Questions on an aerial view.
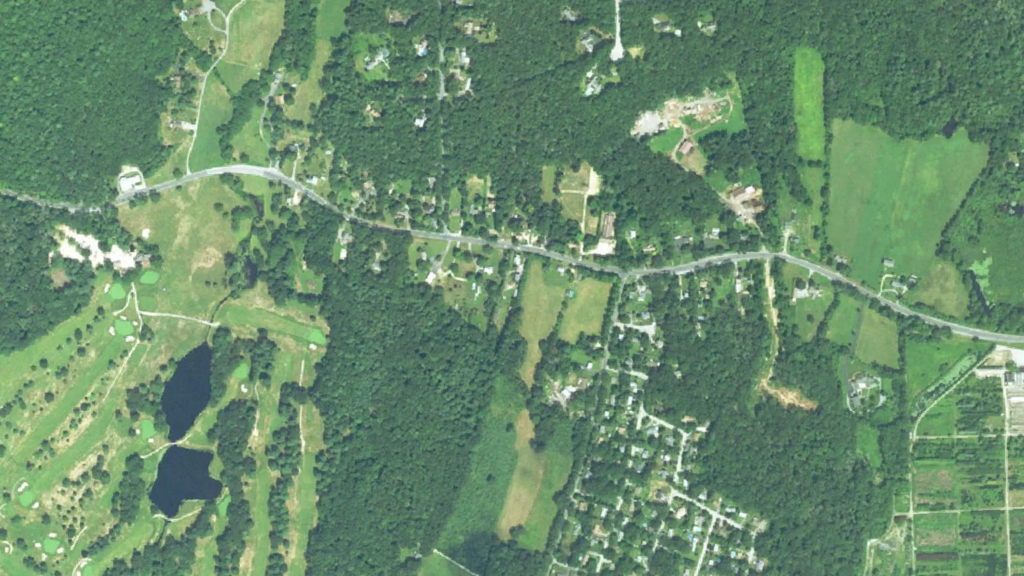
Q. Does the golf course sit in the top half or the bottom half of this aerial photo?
bottom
